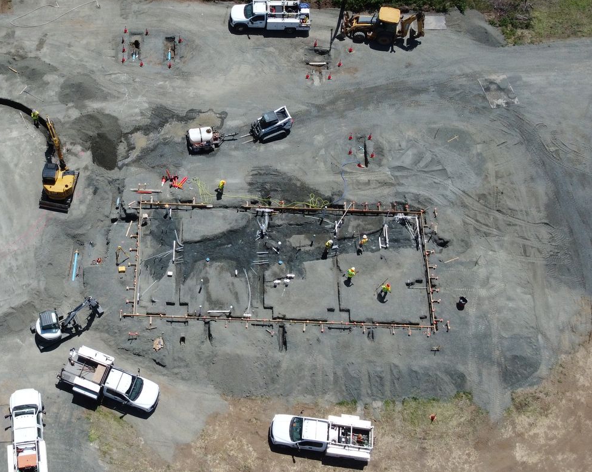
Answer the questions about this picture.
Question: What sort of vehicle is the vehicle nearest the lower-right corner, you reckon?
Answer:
truck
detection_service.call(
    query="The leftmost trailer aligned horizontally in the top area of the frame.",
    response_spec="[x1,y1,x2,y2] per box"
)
[185,128,238,155]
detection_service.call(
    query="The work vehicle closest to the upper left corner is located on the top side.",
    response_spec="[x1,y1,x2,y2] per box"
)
[34,117,79,217]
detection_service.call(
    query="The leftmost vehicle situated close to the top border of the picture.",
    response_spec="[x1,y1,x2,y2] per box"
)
[230,0,312,34]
